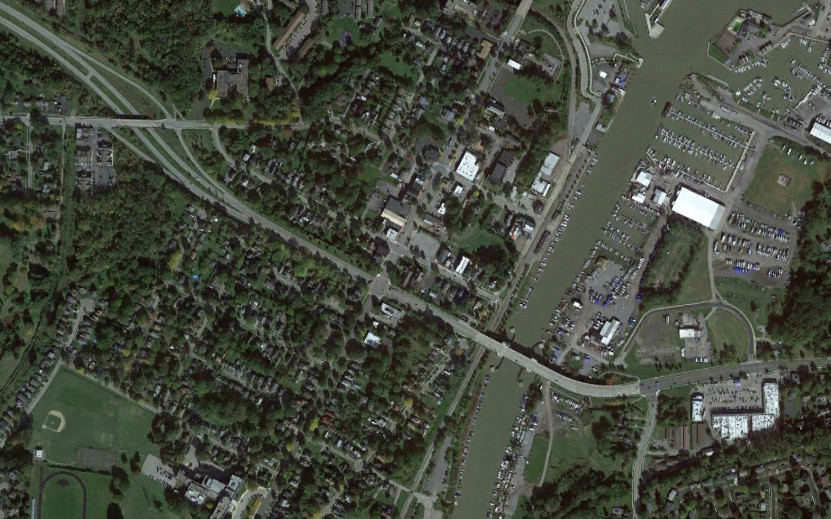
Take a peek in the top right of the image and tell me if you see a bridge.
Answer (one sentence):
No, there is no bridge in the top right of the image.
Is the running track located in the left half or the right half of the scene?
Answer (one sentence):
It is on the left.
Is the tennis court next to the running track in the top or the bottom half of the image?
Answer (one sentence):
It is in the bottom half that the tennis court next to the running track appears.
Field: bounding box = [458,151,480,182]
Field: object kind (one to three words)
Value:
building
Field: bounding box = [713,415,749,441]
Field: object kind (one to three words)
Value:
building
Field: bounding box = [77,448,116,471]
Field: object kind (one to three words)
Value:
tennis court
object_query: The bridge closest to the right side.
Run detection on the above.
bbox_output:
[454,312,641,394]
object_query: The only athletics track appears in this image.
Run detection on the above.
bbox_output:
[40,465,85,519]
